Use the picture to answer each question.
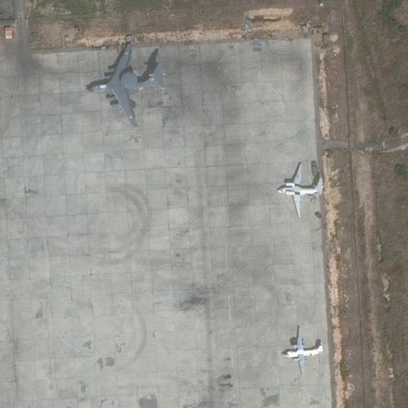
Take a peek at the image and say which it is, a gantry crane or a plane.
plane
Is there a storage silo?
No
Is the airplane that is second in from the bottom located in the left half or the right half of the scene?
right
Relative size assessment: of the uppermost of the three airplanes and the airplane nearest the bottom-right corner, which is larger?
the uppermost of the three airplanes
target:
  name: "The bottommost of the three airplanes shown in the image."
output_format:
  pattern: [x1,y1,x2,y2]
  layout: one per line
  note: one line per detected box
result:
[282,329,323,379]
